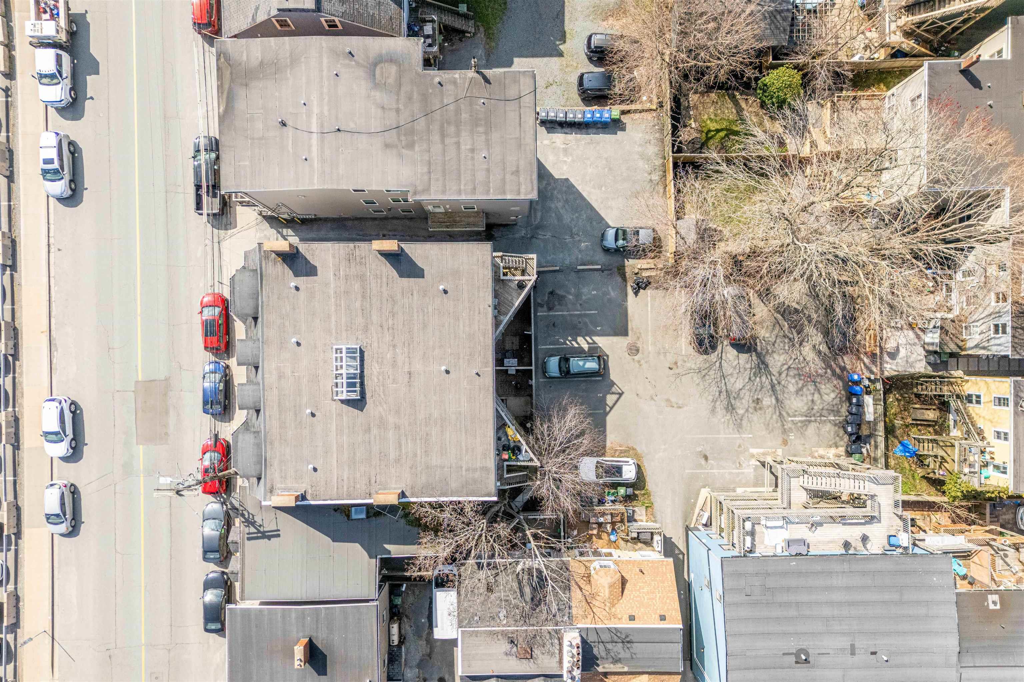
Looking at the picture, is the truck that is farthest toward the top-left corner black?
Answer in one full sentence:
No, the truck that is farthest toward the top-left corner is white.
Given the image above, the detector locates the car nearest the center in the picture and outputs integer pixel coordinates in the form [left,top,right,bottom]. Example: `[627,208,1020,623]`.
[543,350,604,382]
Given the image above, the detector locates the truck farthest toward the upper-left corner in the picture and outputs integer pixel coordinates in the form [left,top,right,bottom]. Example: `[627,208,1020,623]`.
[22,0,76,108]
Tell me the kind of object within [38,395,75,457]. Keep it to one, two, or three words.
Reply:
car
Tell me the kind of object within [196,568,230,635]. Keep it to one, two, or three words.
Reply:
car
